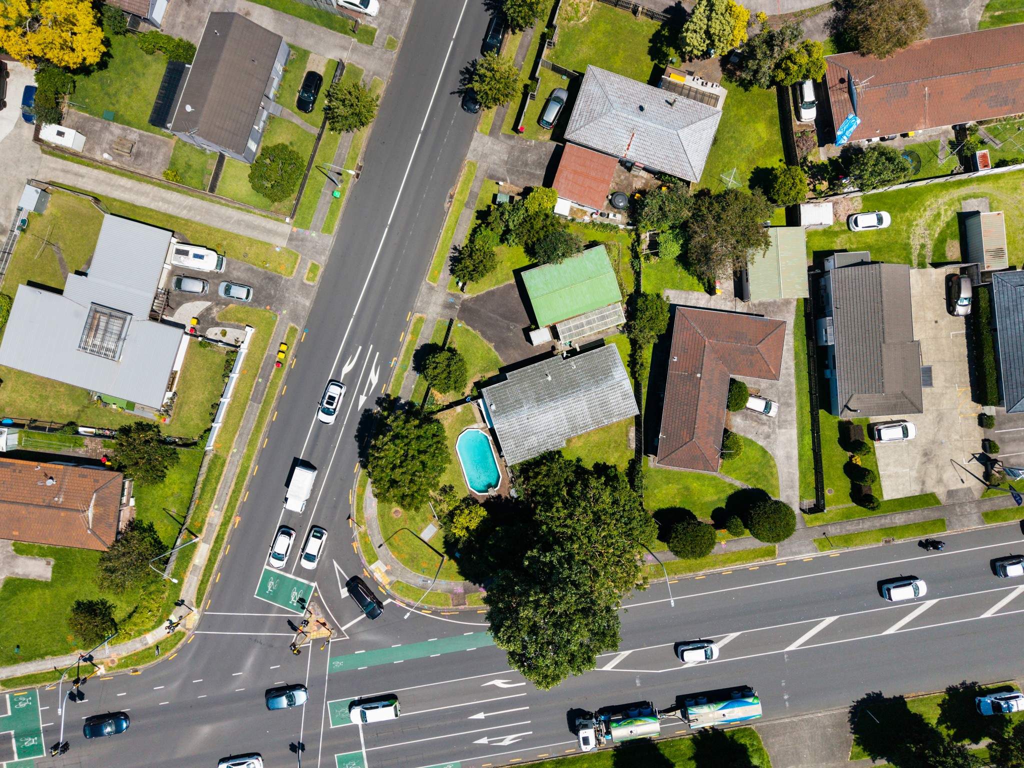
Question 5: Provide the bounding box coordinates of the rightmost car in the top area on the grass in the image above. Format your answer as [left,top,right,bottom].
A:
[846,209,890,233]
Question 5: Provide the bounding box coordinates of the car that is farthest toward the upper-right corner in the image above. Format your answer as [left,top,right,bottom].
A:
[795,79,820,124]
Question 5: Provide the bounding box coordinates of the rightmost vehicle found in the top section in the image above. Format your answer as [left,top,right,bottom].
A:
[948,275,973,317]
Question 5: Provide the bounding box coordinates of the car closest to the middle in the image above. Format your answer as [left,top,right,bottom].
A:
[317,379,348,425]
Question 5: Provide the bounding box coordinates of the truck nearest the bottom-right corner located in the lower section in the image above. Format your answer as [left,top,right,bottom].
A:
[976,688,1024,718]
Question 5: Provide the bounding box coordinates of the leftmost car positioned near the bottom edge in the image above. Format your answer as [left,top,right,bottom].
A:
[84,710,133,738]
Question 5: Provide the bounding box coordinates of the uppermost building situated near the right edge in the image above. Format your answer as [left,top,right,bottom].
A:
[818,23,1024,147]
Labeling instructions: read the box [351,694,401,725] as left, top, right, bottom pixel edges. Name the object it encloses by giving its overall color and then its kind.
white van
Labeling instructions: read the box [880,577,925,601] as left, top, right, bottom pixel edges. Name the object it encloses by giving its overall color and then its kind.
white car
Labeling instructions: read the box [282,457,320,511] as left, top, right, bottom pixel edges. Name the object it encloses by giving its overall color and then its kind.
white truck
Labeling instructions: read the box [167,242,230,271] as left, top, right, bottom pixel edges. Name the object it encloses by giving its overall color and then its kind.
white camper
